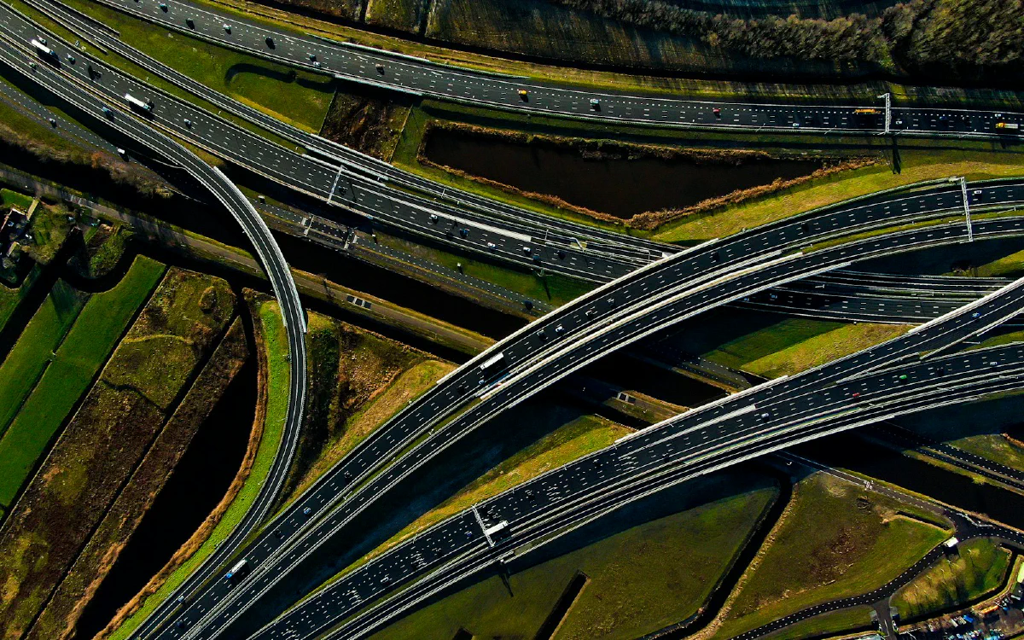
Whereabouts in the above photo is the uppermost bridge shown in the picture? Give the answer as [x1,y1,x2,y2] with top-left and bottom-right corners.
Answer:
[321,38,433,94]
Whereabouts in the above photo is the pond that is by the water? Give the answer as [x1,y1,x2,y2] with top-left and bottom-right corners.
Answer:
[422,125,827,217]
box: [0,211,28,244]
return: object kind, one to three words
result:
house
